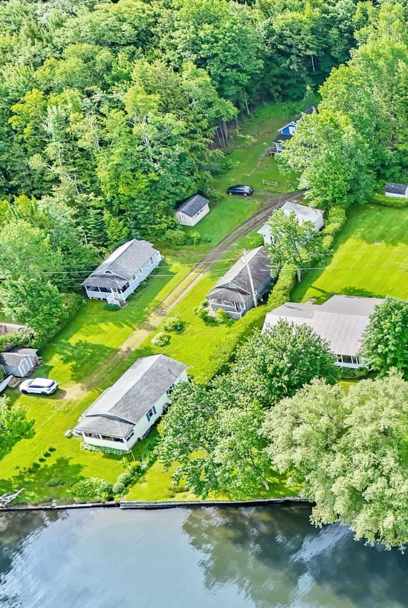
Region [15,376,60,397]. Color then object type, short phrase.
white car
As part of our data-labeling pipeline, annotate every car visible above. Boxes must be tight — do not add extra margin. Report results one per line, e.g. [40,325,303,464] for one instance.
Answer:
[225,185,254,196]
[15,376,60,397]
